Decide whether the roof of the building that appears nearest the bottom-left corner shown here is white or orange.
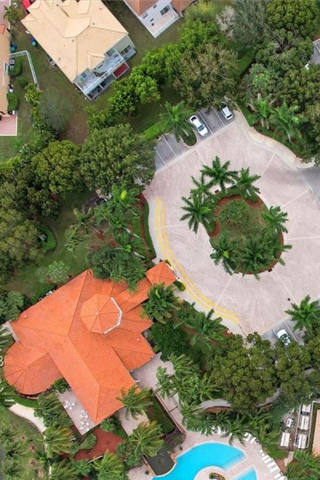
orange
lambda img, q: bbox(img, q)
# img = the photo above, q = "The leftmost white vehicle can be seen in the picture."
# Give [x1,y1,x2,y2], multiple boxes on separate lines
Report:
[189,114,207,135]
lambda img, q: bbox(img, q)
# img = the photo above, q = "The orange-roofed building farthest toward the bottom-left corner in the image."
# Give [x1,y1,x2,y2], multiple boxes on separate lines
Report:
[3,261,182,424]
